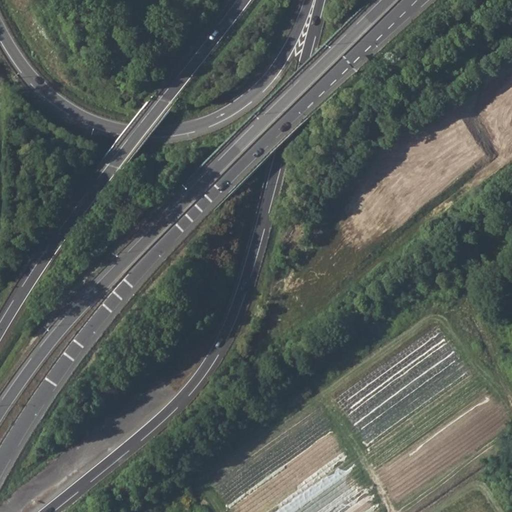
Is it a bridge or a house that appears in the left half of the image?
bridge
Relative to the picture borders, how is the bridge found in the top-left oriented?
diagonally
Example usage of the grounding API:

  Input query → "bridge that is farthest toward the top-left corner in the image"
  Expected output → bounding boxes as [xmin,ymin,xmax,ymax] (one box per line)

[95,92,175,180]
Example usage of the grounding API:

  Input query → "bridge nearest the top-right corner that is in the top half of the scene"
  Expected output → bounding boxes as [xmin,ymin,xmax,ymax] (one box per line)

[197,0,364,212]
